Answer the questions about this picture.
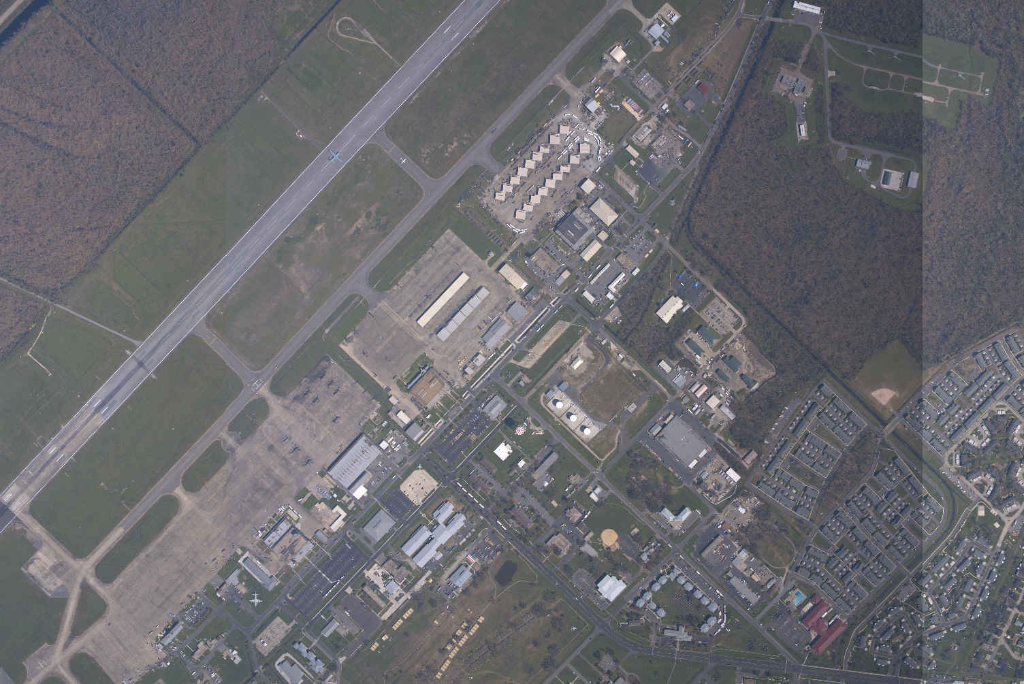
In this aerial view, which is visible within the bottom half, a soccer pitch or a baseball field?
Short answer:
baseball field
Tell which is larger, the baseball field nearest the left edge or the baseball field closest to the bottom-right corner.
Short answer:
the baseball field closest to the bottom-right corner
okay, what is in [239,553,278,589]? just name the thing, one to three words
hangar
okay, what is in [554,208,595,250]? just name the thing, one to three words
building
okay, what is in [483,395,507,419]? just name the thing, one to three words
building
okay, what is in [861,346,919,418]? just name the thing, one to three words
baseball field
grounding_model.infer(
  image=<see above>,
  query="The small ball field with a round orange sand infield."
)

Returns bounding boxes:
[588,510,632,550]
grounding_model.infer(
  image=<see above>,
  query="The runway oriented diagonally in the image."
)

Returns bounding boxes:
[0,0,501,515]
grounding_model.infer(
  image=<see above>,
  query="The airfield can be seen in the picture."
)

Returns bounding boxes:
[0,0,680,684]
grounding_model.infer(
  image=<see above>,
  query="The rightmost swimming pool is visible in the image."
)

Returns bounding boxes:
[785,588,807,606]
